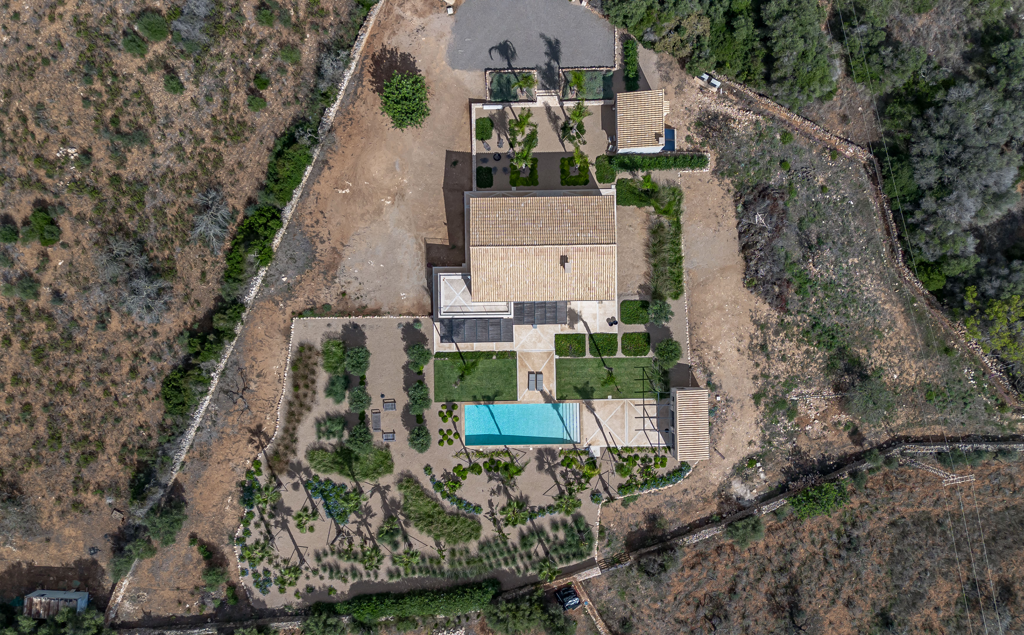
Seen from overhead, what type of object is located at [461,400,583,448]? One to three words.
swimming pool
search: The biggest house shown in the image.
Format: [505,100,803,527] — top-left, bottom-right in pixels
[439,195,617,318]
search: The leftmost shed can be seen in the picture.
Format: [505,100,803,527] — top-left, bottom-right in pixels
[23,590,91,618]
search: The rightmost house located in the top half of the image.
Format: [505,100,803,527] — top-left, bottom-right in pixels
[615,88,672,152]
